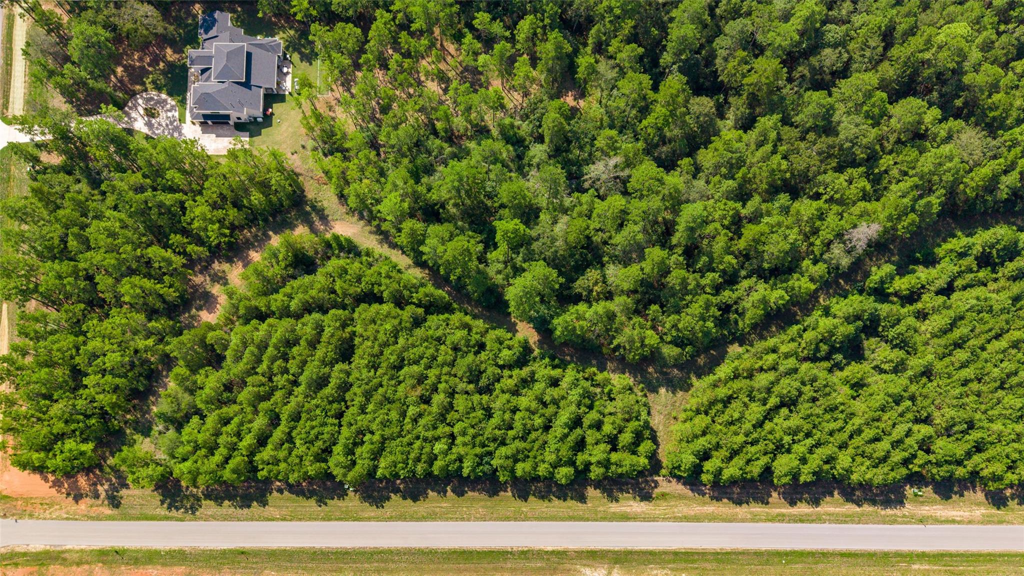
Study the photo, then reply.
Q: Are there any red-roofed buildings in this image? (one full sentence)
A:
No, there appears to be no red-roofed building in this shot.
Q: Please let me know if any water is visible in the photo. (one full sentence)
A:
No, the scene doesn't show any water.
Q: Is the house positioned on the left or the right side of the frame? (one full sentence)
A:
The house appears in the left half of the scene.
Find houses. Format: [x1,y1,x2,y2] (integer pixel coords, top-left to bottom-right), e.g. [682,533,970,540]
[188,11,284,125]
